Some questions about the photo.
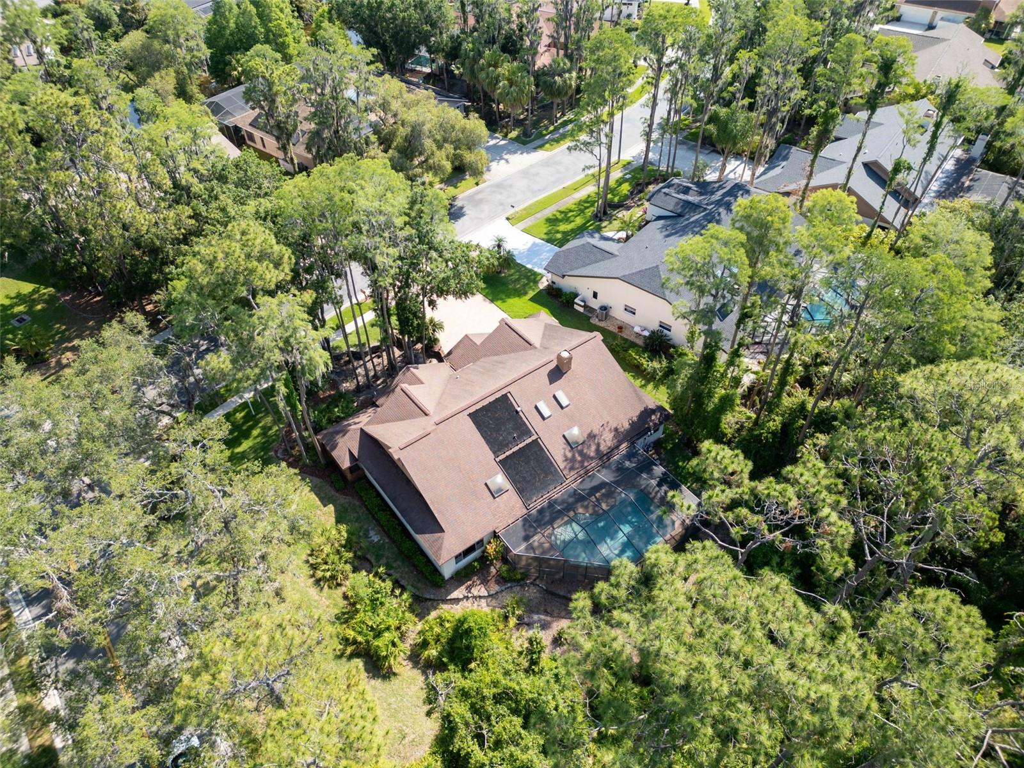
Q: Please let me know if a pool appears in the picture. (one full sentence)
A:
Yes, the image includes a pool.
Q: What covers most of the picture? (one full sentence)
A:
The bulk of the photo consists of trees.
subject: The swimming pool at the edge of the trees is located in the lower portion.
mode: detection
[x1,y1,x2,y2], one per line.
[501,458,697,582]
